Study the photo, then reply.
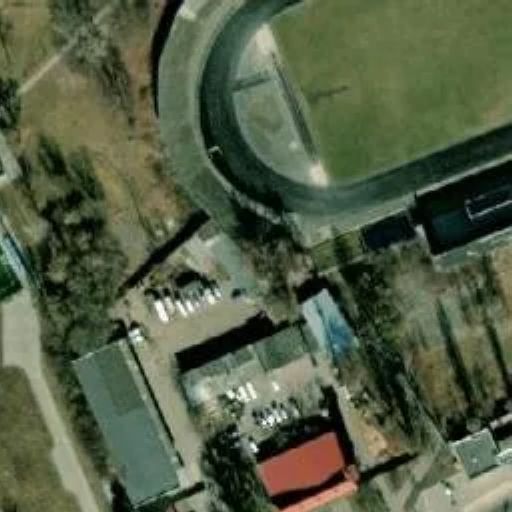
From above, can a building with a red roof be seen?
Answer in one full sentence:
Yes, a building with a red roof appears in the view.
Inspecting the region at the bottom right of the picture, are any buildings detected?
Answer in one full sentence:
Yes, a building is visible at the bottom right of the picture.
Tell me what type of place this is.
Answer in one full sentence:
The area seen from above is a sports ground.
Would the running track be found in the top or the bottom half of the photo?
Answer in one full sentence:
The running track is in the top half of the image.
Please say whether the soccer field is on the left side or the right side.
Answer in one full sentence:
The soccer field appears in the right half of the scene.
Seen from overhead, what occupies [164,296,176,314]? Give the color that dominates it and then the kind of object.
white vehicle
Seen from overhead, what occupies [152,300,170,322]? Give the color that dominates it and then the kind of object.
white vehicle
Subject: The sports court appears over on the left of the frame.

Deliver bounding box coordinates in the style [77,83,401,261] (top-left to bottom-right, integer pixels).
[0,252,20,300]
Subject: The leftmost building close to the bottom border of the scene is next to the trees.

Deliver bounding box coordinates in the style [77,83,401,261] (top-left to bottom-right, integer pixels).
[72,338,188,508]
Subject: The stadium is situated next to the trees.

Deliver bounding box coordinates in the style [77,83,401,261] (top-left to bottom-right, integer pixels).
[157,0,512,268]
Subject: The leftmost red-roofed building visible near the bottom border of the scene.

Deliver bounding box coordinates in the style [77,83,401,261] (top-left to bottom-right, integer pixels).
[257,432,358,512]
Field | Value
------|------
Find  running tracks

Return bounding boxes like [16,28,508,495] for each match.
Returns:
[197,0,512,219]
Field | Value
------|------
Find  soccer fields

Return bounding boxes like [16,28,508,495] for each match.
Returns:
[232,0,512,188]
